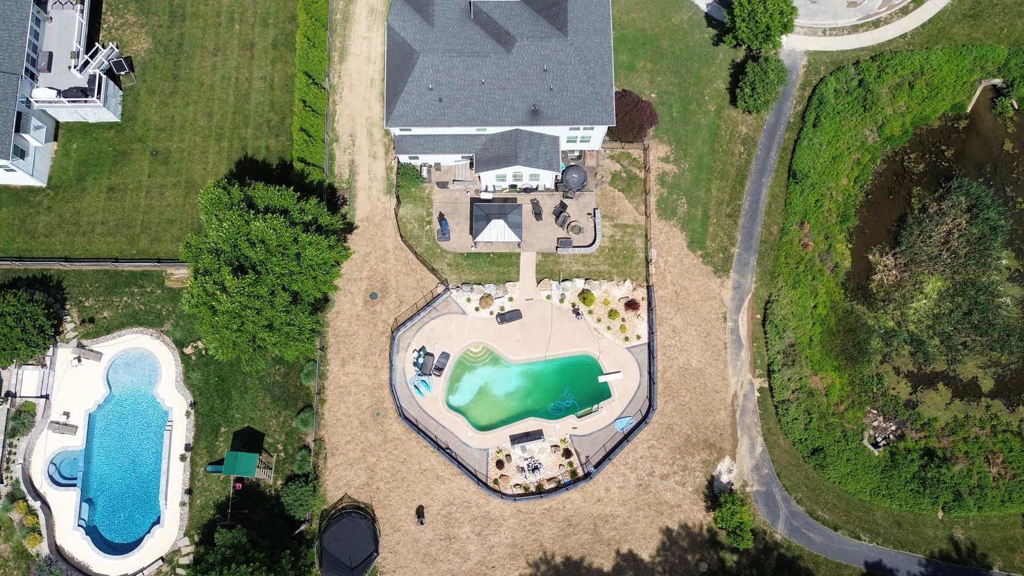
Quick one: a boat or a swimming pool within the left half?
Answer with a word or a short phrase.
swimming pool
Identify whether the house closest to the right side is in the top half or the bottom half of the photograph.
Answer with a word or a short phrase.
top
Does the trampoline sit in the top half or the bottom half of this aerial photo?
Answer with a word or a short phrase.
bottom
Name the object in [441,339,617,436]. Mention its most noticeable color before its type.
green swimming pool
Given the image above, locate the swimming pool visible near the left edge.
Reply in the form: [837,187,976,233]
[42,344,176,561]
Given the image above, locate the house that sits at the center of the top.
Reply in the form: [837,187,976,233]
[383,0,617,192]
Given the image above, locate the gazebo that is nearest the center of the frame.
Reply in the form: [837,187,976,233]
[473,202,523,250]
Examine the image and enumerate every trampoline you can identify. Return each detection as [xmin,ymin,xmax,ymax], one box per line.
[312,510,384,576]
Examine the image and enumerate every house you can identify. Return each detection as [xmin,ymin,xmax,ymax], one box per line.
[0,0,67,182]
[383,0,617,192]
